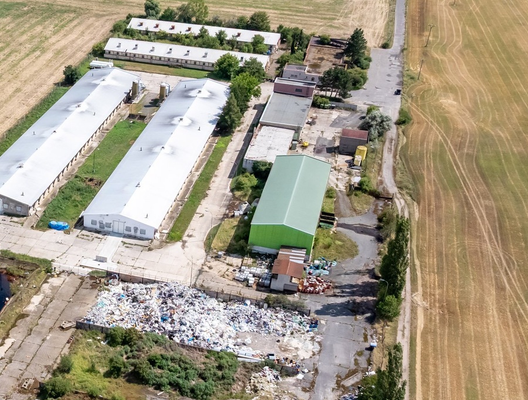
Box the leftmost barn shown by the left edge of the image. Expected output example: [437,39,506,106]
[0,68,141,215]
